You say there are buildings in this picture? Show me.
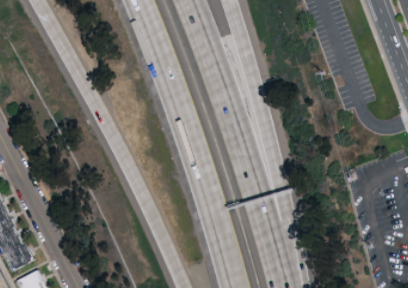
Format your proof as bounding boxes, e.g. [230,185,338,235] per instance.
[16,269,50,288]
[0,192,35,268]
